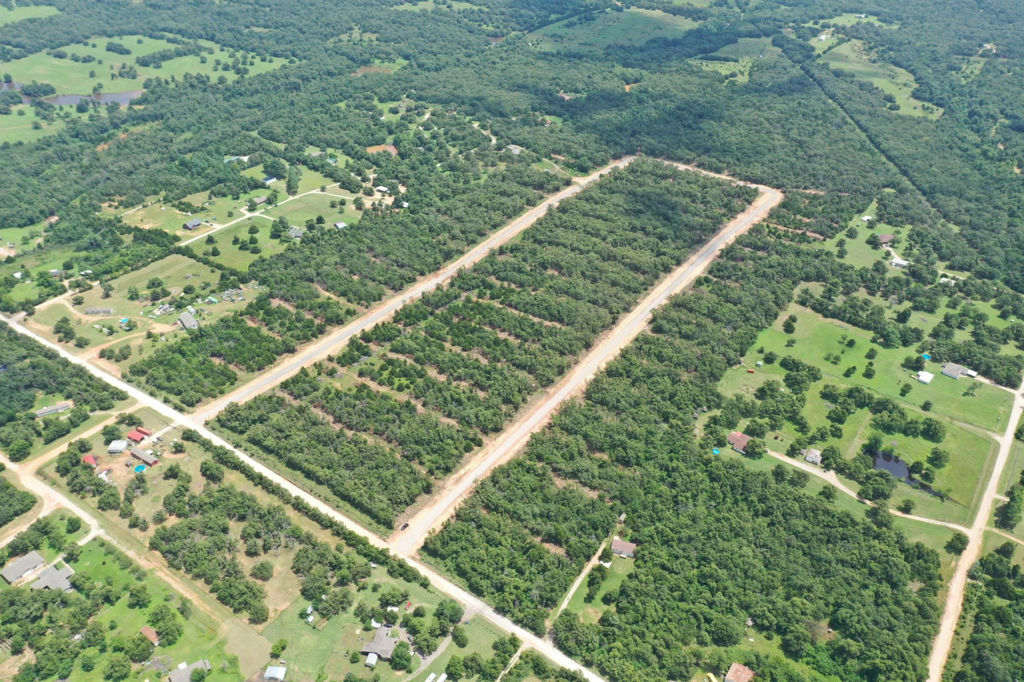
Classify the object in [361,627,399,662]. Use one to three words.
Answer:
house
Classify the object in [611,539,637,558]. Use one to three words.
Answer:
house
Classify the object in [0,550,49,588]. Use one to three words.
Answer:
building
